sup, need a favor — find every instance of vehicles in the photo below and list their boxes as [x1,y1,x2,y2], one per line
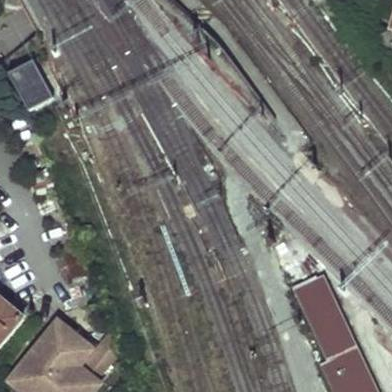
[41,227,66,242]
[16,284,37,300]
[8,270,36,291]
[0,212,18,230]
[53,282,70,302]
[0,186,12,205]
[2,260,29,280]
[0,234,17,249]
[41,294,52,316]
[4,248,24,264]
